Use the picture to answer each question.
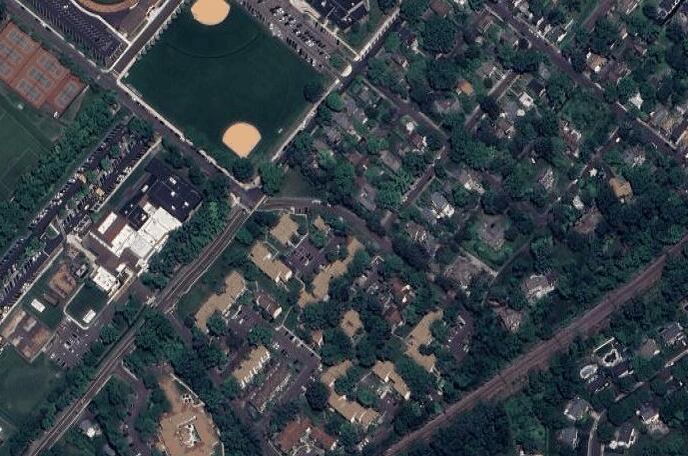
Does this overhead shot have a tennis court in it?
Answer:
Yes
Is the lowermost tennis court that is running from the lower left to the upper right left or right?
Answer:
left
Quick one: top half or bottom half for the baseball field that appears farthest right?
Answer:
top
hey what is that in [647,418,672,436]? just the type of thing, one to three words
house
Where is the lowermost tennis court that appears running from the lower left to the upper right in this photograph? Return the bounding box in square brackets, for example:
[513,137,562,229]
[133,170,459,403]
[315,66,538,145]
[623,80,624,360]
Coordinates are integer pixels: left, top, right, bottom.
[41,70,89,123]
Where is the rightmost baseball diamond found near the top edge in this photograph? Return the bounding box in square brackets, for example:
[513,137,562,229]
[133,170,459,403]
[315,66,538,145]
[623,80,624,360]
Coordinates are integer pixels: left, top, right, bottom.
[191,0,230,25]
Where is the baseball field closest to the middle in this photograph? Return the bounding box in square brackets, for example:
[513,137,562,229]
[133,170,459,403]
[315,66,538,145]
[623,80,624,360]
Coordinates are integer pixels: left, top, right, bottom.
[223,121,261,157]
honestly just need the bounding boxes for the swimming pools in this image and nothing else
[605,351,619,365]
[584,365,597,377]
